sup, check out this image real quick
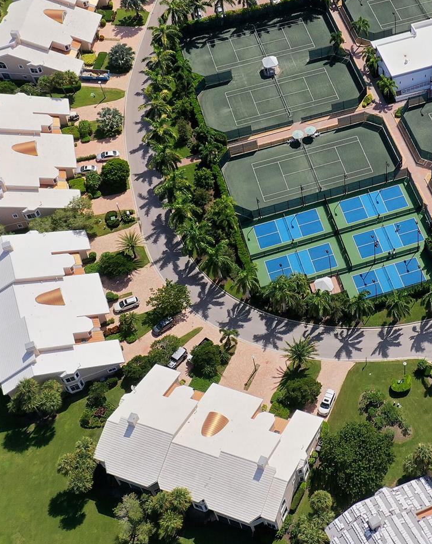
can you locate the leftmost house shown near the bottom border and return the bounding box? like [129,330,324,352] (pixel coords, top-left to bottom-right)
[94,364,323,540]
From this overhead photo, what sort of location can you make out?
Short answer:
residential area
